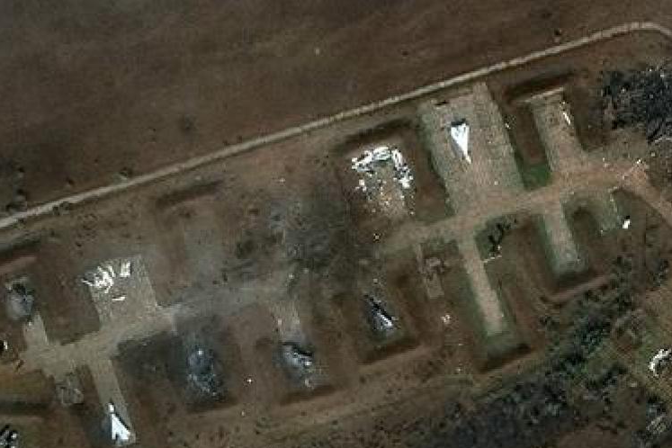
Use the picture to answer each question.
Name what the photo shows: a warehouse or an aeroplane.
aeroplane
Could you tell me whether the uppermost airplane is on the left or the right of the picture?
right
